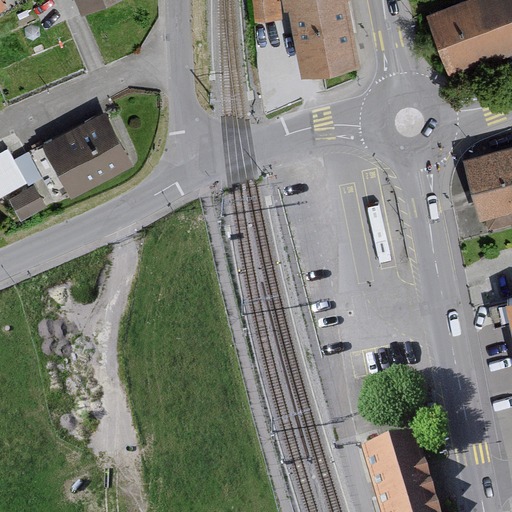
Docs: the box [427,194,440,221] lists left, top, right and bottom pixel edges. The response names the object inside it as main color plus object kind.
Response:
white vehicle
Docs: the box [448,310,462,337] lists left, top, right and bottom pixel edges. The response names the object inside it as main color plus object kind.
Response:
white vehicle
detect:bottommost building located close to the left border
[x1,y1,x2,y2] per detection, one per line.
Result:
[9,185,47,222]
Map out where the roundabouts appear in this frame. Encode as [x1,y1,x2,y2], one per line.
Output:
[394,106,425,138]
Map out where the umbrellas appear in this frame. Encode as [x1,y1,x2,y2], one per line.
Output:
[25,24,40,40]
